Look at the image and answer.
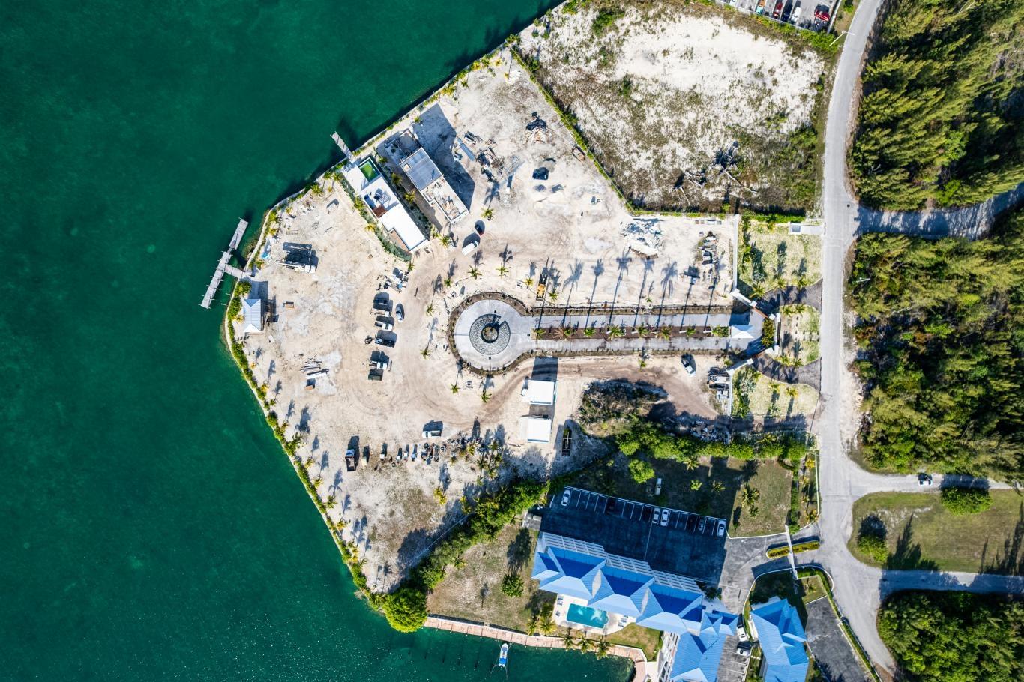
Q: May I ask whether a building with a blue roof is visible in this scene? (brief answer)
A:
Yes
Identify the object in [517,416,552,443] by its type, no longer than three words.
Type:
building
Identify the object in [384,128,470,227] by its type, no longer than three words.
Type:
house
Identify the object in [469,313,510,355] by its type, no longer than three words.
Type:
roundabout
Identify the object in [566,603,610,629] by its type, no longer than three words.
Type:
swimming pool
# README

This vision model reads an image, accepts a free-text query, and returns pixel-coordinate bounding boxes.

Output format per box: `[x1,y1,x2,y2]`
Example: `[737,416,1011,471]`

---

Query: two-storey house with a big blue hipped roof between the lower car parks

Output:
[746,593,809,682]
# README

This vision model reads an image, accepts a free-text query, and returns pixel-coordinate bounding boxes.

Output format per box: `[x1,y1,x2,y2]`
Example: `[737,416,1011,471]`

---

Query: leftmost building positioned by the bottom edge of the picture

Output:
[531,523,739,682]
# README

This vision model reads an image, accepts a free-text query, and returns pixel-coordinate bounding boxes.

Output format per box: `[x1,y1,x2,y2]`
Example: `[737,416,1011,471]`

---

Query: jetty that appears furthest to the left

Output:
[198,218,251,309]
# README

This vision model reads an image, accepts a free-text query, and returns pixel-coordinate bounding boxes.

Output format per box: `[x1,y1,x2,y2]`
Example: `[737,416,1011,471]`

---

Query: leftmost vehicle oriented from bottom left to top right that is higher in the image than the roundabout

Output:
[460,238,480,255]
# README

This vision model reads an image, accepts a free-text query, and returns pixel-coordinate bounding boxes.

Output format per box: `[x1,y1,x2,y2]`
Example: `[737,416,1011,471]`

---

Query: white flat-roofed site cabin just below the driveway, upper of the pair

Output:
[523,380,555,405]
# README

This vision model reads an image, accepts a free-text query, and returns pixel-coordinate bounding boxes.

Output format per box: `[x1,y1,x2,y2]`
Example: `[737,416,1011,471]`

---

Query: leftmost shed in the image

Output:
[243,298,265,332]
